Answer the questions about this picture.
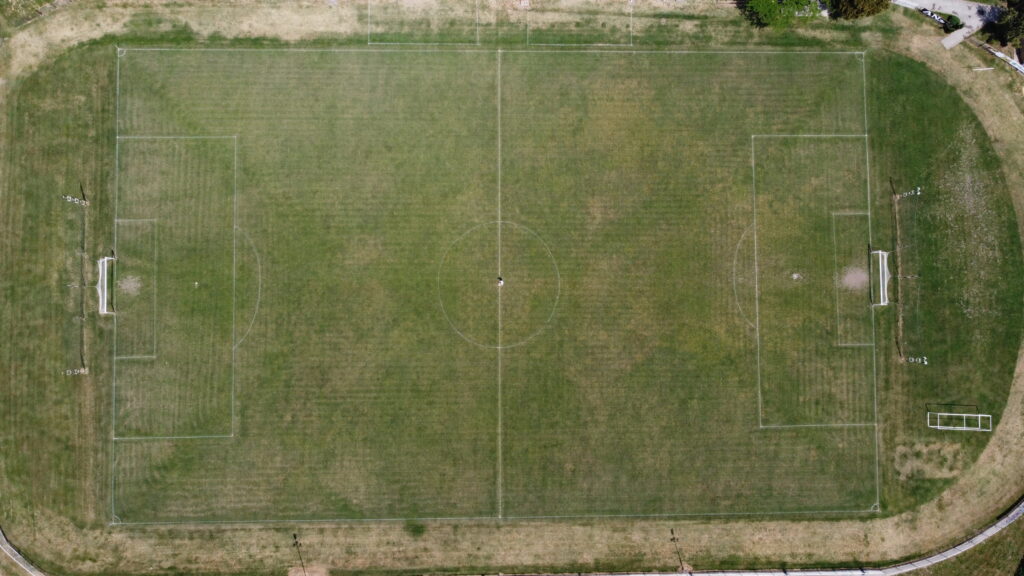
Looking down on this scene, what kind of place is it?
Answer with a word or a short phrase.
sports ground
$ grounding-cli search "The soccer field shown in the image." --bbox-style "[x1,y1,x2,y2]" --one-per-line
[110,11,881,524]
